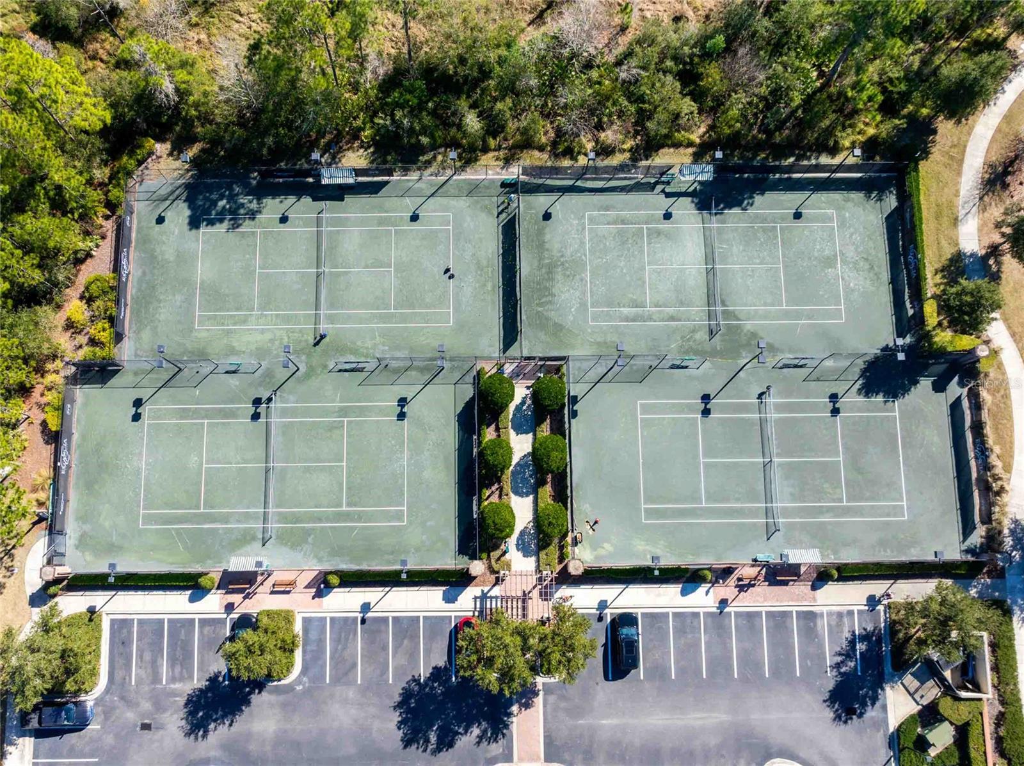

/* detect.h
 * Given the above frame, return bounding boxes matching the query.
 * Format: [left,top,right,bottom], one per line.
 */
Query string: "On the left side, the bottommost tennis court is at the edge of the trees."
[64,364,477,571]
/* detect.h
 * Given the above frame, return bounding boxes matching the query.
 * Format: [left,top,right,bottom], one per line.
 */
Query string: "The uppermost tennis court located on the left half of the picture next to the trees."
[124,178,520,368]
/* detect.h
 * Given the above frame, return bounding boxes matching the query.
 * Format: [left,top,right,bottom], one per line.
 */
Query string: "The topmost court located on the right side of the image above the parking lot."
[519,175,914,363]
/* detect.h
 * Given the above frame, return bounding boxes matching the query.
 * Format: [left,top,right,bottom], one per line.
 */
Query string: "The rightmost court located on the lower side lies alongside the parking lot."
[568,359,983,564]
